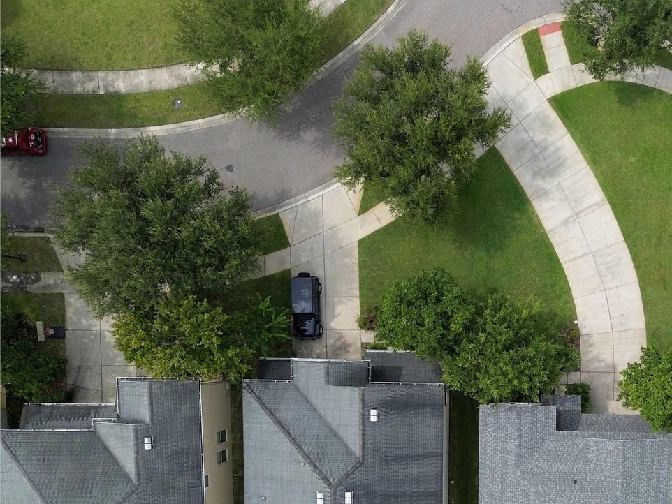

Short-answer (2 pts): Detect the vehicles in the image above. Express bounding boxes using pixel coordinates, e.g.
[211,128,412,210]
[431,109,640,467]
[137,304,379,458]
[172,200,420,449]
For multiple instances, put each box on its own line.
[290,271,326,337]
[0,125,49,161]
